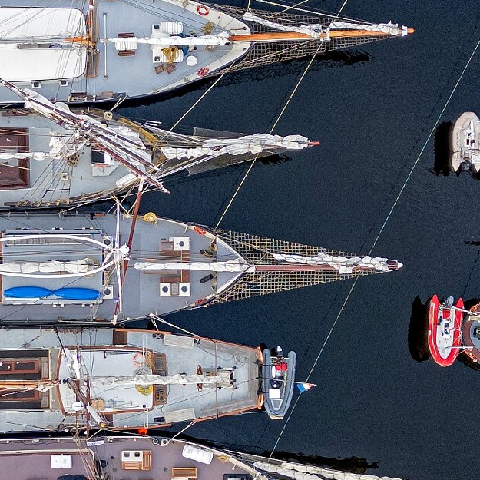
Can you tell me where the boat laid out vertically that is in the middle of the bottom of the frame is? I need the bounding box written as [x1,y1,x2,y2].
[262,351,296,418]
